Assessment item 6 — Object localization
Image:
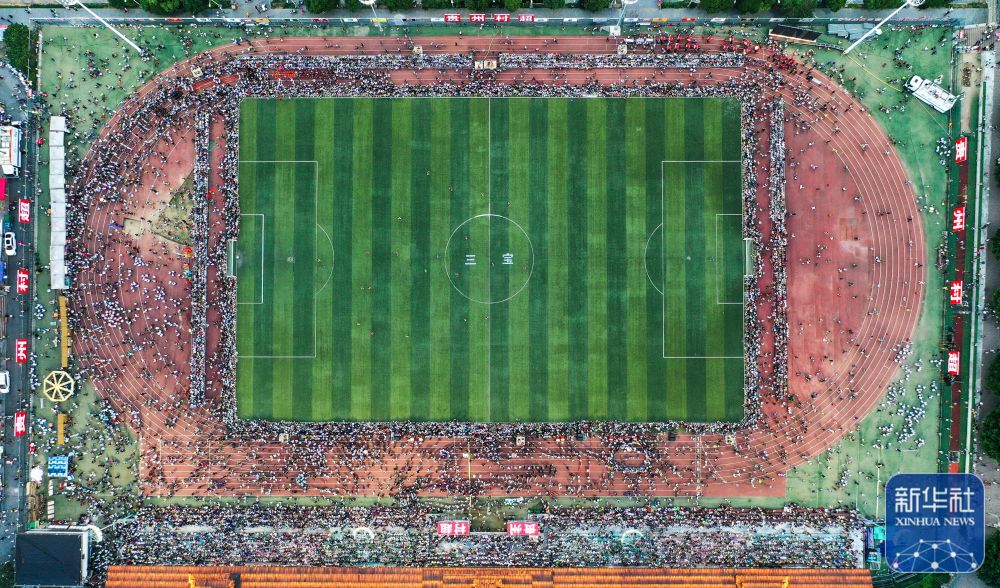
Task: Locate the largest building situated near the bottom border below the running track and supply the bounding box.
[14,517,98,585]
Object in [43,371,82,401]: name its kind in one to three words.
gazebo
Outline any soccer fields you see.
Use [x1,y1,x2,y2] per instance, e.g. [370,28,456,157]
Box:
[235,95,746,423]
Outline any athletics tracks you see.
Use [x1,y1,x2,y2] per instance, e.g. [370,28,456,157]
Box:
[62,35,924,497]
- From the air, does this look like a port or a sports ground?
sports ground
